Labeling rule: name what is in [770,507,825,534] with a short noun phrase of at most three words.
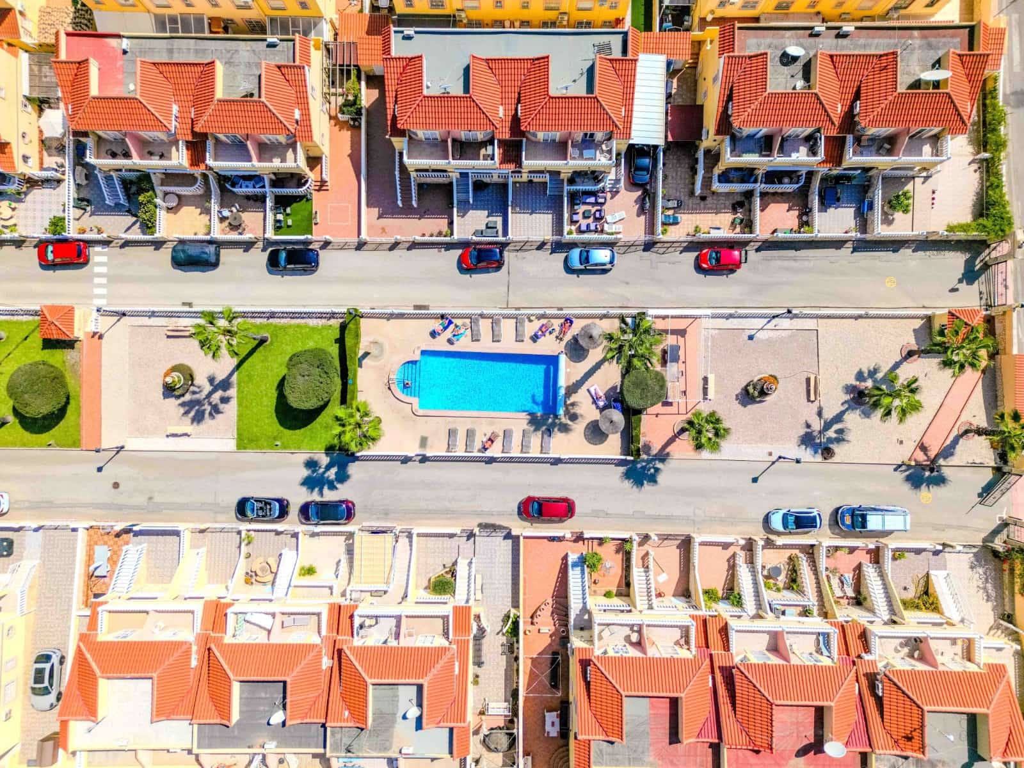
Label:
car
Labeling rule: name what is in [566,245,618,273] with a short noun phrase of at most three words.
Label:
car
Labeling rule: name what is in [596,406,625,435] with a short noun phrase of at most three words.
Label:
umbrella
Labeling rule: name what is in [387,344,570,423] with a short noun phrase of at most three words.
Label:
swimming pool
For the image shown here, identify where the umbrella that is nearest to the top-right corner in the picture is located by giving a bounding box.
[575,322,603,350]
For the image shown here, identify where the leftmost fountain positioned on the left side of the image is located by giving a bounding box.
[162,365,193,395]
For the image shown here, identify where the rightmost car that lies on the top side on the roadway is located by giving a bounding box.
[700,246,754,272]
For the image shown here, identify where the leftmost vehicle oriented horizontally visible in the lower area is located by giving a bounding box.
[232,497,288,524]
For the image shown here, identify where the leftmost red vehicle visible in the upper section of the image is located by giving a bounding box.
[33,239,86,266]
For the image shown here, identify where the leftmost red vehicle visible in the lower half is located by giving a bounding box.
[520,496,576,524]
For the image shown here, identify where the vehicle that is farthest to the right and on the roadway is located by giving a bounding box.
[840,504,919,534]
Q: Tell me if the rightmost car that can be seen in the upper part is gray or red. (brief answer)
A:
red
